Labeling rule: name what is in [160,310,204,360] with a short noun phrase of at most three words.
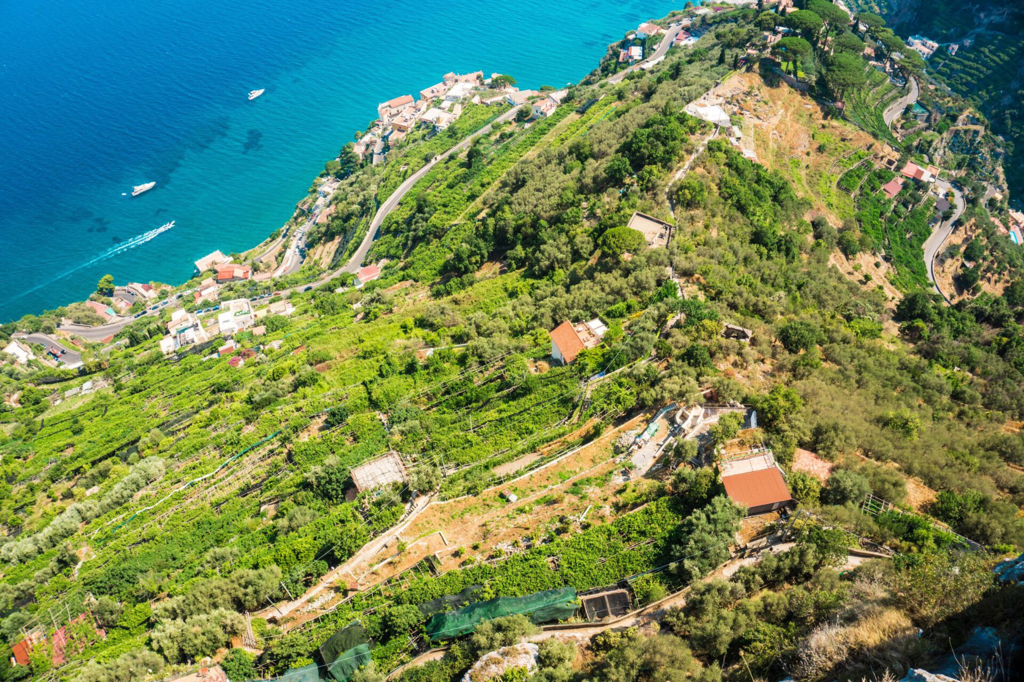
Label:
house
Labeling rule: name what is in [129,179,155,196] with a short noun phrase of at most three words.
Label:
boat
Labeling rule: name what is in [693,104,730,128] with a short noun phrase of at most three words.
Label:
house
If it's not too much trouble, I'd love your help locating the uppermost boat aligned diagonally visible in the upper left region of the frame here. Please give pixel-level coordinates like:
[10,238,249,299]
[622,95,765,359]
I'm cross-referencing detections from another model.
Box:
[245,85,264,100]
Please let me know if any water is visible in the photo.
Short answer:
Yes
